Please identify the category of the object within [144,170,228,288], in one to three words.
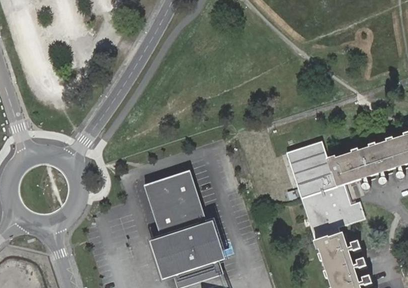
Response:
building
